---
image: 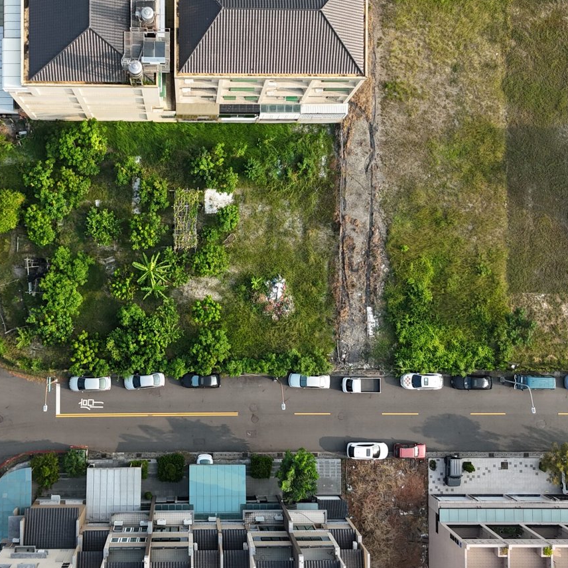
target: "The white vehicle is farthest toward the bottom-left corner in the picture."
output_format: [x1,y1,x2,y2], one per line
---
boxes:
[70,374,112,394]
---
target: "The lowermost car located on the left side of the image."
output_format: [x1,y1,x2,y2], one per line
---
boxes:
[197,449,214,464]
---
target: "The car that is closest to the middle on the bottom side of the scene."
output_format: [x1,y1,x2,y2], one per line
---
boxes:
[288,371,330,390]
